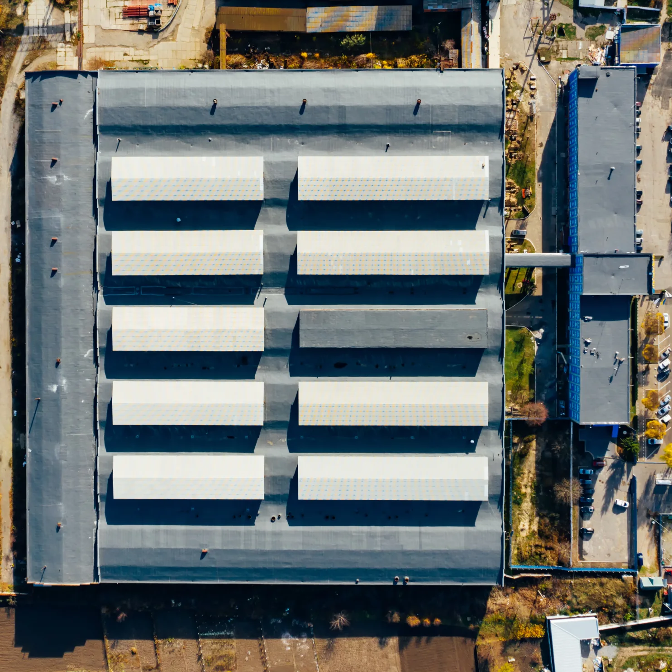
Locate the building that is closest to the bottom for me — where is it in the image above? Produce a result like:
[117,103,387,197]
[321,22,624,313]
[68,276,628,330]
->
[546,613,600,672]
